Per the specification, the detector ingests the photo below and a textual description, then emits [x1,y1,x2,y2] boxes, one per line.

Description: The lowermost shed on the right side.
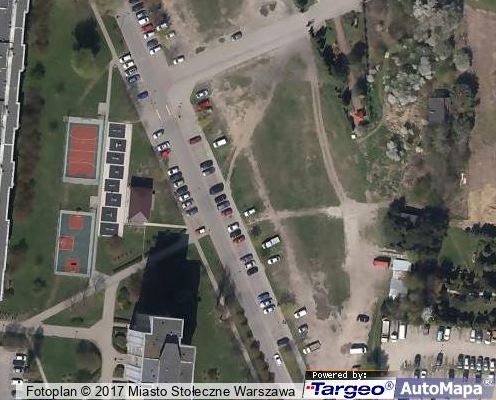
[388,279,407,300]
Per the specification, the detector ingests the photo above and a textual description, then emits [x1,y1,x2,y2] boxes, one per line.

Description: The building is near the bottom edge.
[123,311,196,400]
